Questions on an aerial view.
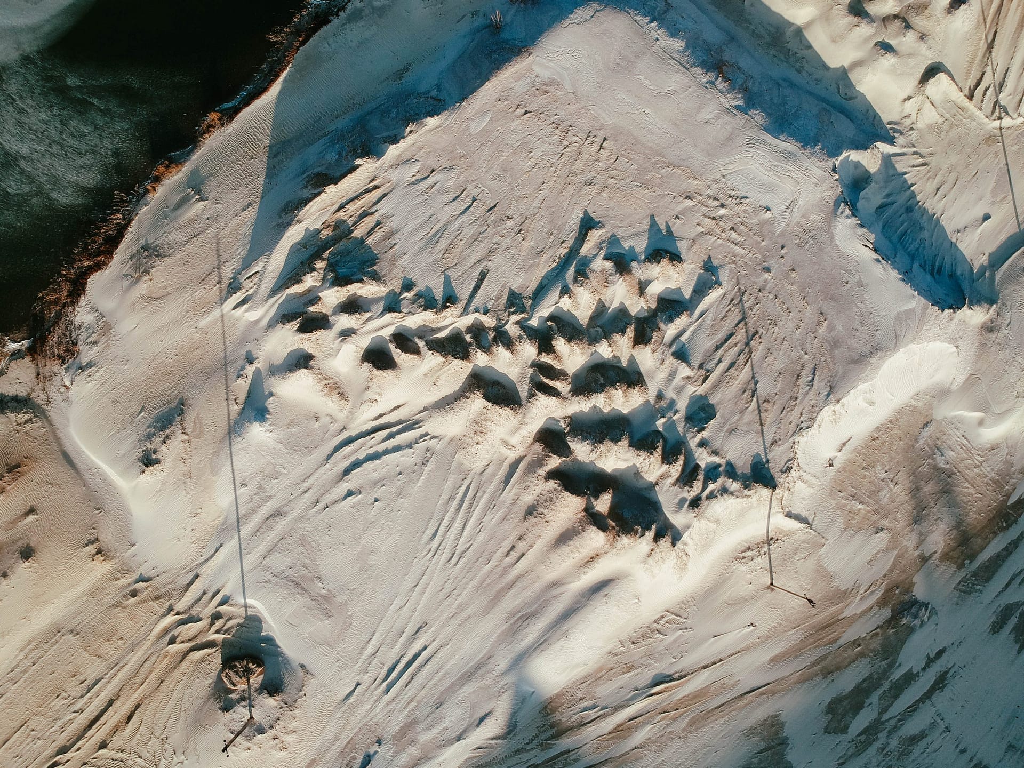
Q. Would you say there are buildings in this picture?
No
